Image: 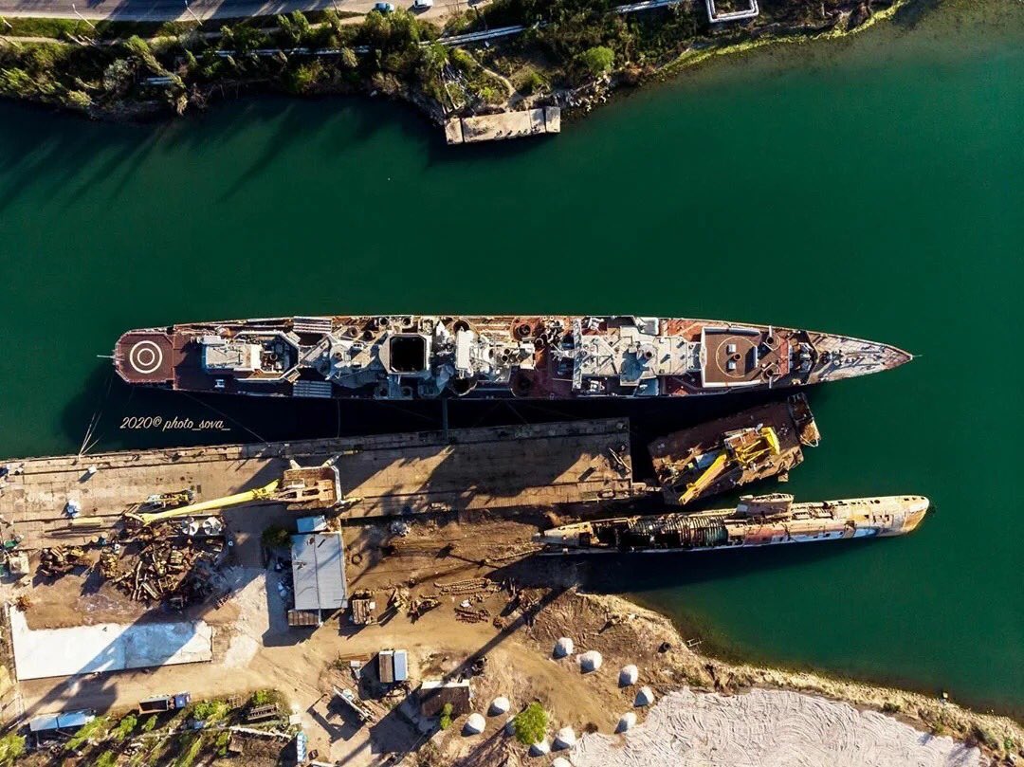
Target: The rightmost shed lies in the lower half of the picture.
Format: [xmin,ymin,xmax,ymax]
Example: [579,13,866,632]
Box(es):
[421,675,471,717]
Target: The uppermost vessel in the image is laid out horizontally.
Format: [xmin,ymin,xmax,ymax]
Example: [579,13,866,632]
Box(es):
[98,314,920,399]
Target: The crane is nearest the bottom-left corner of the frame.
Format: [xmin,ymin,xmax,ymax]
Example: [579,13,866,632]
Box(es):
[125,450,373,523]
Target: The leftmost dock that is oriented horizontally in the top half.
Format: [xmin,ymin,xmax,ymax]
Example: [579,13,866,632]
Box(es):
[445,105,560,147]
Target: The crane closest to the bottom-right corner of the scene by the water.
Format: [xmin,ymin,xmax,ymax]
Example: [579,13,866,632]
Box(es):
[656,424,780,503]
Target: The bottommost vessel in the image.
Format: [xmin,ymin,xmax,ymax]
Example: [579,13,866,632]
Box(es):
[537,498,932,555]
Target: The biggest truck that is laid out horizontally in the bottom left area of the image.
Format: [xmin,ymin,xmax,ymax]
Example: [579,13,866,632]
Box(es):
[135,697,187,718]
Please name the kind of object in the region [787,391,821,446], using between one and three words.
ship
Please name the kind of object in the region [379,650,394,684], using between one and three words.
shed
